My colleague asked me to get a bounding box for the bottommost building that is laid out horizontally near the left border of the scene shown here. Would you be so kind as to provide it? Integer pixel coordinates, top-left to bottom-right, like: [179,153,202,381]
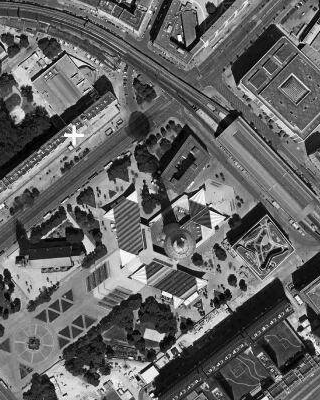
[15,245,86,274]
